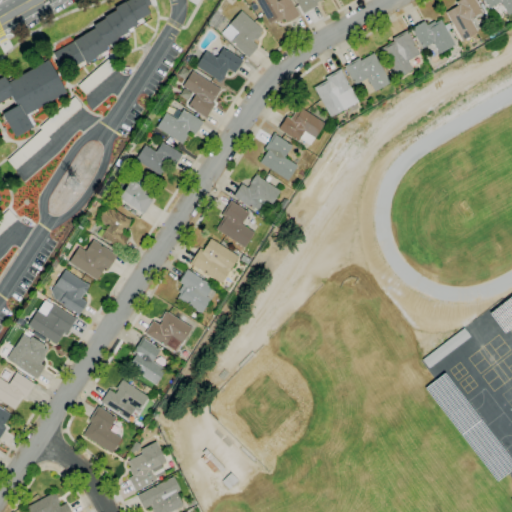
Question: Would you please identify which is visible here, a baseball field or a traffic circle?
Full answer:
I can see a baseball field in this picture.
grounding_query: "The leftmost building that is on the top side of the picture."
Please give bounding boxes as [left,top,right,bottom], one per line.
[0,64,64,138]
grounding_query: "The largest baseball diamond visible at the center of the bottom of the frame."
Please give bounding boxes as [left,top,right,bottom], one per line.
[210,350,312,474]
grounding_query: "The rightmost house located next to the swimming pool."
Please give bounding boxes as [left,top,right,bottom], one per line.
[223,10,268,54]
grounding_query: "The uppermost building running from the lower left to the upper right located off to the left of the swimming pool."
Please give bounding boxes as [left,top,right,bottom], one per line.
[54,0,164,62]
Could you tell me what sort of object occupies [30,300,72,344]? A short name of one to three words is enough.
house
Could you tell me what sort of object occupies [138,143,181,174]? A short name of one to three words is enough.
house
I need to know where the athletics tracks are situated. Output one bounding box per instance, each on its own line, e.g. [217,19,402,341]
[375,84,512,301]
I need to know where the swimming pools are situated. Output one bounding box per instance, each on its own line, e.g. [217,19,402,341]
[200,30,217,49]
